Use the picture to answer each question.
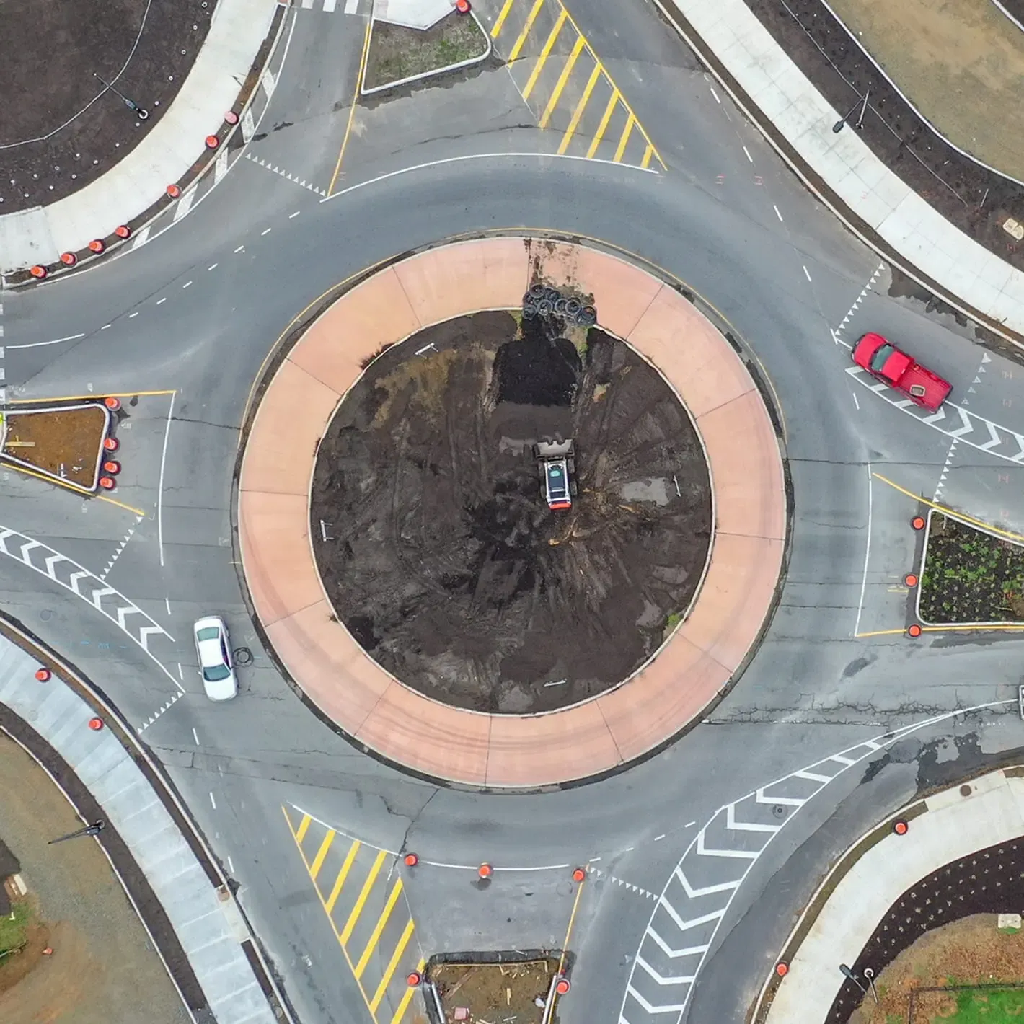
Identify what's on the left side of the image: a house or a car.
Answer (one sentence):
Visible on the left side of the image is a car.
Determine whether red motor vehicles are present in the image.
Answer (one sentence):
Yes, a red motor vehicle appears in the view.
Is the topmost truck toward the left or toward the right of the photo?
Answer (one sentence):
It is on the right.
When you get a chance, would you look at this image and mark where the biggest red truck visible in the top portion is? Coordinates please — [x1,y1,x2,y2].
[851,333,956,417]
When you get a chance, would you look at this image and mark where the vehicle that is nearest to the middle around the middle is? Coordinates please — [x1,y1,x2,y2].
[530,439,576,508]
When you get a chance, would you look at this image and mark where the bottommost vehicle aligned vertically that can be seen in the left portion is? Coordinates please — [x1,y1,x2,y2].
[194,616,238,702]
